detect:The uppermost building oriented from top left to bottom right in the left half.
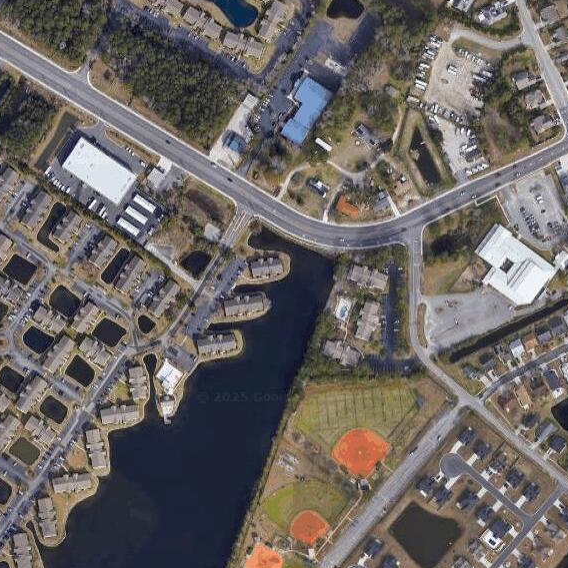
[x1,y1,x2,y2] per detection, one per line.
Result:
[183,5,223,36]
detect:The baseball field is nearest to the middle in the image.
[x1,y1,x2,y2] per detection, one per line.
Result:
[294,382,420,481]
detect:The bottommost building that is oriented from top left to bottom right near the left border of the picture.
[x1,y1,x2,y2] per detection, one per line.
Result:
[21,412,59,447]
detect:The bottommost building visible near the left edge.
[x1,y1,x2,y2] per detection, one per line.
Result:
[14,533,32,568]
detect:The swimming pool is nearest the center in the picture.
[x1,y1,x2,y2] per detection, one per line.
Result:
[336,299,351,321]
